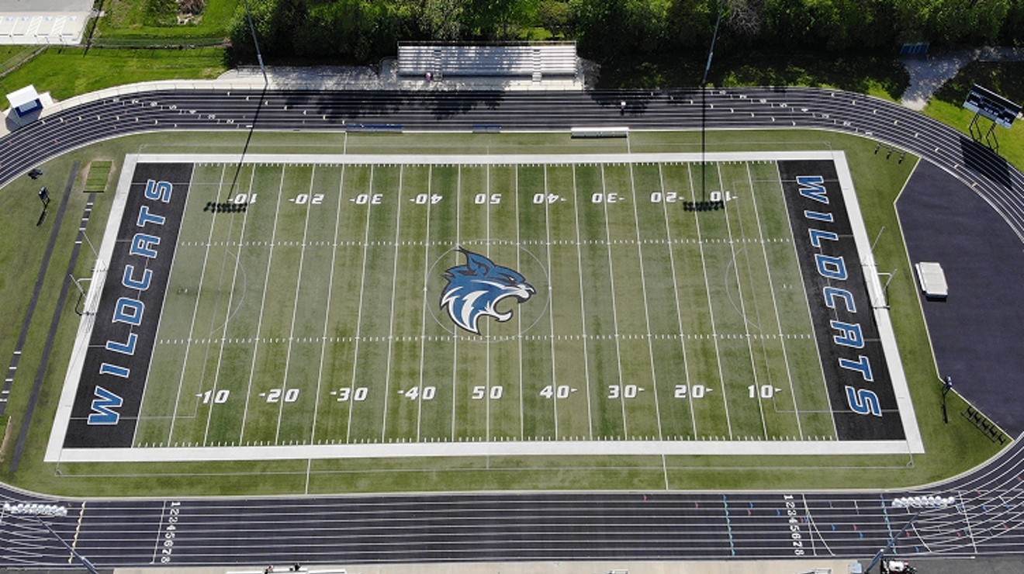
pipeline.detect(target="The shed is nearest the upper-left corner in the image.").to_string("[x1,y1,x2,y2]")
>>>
[9,82,49,117]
